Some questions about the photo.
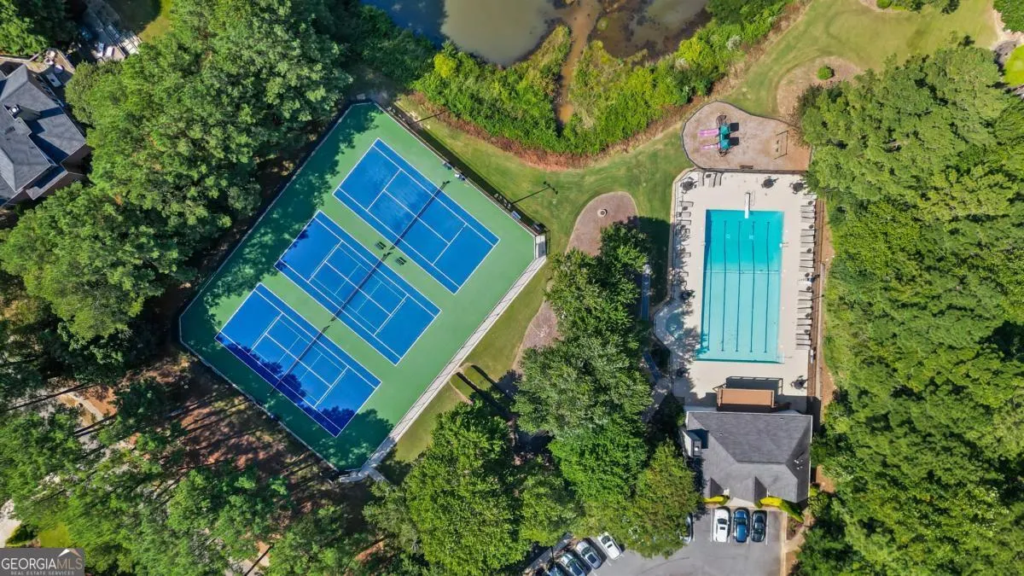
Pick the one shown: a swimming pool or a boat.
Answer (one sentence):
Visible in the photo is a swimming pool.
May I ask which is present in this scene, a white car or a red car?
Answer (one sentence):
I can see a white car in this picture.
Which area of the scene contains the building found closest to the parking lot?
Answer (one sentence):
The building found closest to the parking lot is located in the bottom right region of the scene.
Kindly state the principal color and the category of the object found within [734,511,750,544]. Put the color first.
blue car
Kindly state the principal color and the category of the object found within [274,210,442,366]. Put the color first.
blue tennis court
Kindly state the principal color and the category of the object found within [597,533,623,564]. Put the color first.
white car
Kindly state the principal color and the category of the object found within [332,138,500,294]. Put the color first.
blue tennis court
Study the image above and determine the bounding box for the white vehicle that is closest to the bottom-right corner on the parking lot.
[714,510,731,543]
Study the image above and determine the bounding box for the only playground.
[682,99,809,170]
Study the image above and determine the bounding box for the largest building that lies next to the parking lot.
[676,409,813,503]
